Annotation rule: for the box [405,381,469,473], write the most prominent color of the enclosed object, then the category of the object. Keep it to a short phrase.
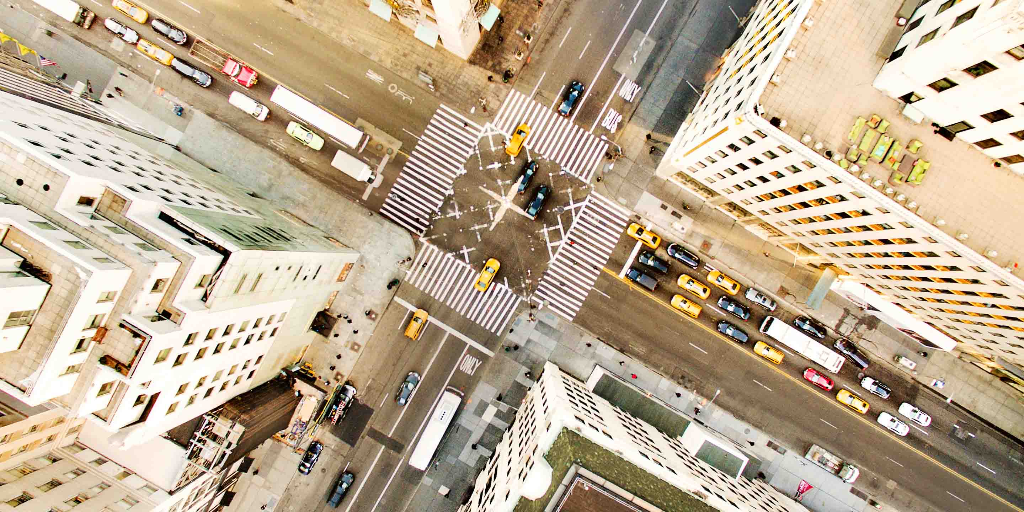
white bus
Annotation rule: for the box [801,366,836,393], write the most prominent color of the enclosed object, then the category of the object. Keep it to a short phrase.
red car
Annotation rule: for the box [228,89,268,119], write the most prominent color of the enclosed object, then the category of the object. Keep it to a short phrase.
white van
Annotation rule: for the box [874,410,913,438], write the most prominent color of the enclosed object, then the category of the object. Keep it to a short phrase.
white car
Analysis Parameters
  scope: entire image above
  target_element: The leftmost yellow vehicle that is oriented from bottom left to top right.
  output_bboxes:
[402,306,431,343]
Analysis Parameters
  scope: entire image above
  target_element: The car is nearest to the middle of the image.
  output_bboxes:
[474,256,501,294]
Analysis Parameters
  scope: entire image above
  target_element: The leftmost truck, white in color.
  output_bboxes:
[35,0,105,35]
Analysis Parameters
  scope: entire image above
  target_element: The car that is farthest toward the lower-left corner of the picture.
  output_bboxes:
[297,440,325,478]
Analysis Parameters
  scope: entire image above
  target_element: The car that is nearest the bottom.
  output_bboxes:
[327,471,354,508]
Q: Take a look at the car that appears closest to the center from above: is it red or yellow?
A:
yellow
